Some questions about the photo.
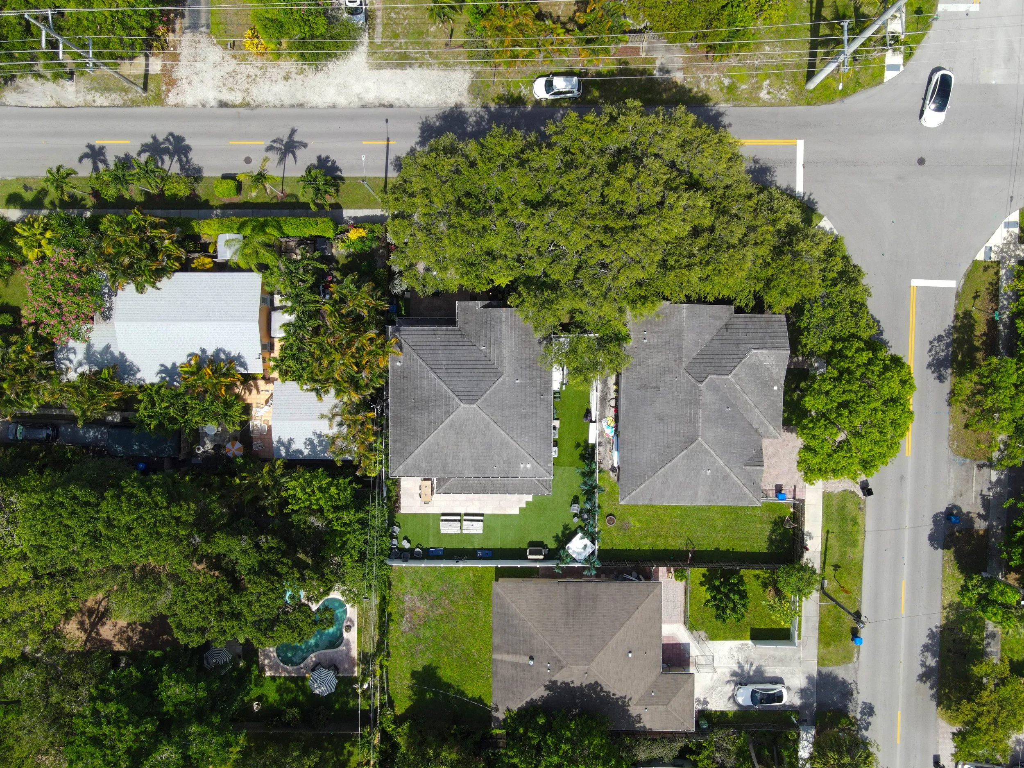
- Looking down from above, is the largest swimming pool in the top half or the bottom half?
bottom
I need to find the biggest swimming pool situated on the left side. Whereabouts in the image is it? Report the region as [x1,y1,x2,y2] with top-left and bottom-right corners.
[275,594,352,671]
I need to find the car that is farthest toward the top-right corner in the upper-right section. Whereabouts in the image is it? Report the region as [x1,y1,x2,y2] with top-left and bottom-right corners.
[917,70,955,128]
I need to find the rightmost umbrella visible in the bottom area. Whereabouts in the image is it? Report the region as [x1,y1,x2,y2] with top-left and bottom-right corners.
[309,668,338,696]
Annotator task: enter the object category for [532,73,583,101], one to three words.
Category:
car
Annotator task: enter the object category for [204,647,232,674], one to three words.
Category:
umbrella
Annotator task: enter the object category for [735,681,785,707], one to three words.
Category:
car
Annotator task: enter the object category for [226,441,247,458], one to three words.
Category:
umbrella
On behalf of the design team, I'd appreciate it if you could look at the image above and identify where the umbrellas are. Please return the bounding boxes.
[226,441,247,458]
[204,647,232,674]
[309,668,338,696]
